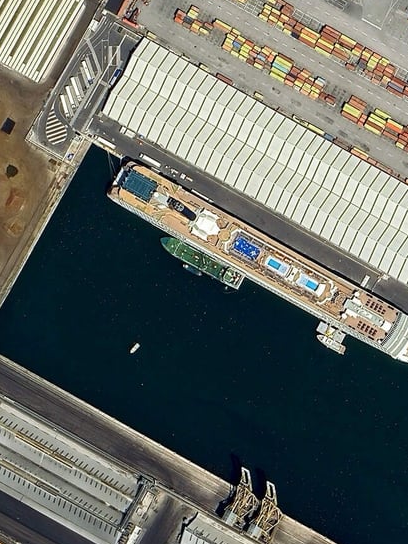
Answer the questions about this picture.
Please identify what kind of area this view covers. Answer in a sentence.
This looks like a port.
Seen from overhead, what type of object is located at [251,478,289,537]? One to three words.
crane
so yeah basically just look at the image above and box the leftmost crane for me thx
[226,465,262,524]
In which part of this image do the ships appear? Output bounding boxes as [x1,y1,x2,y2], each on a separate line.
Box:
[160,237,247,290]
[114,160,408,366]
